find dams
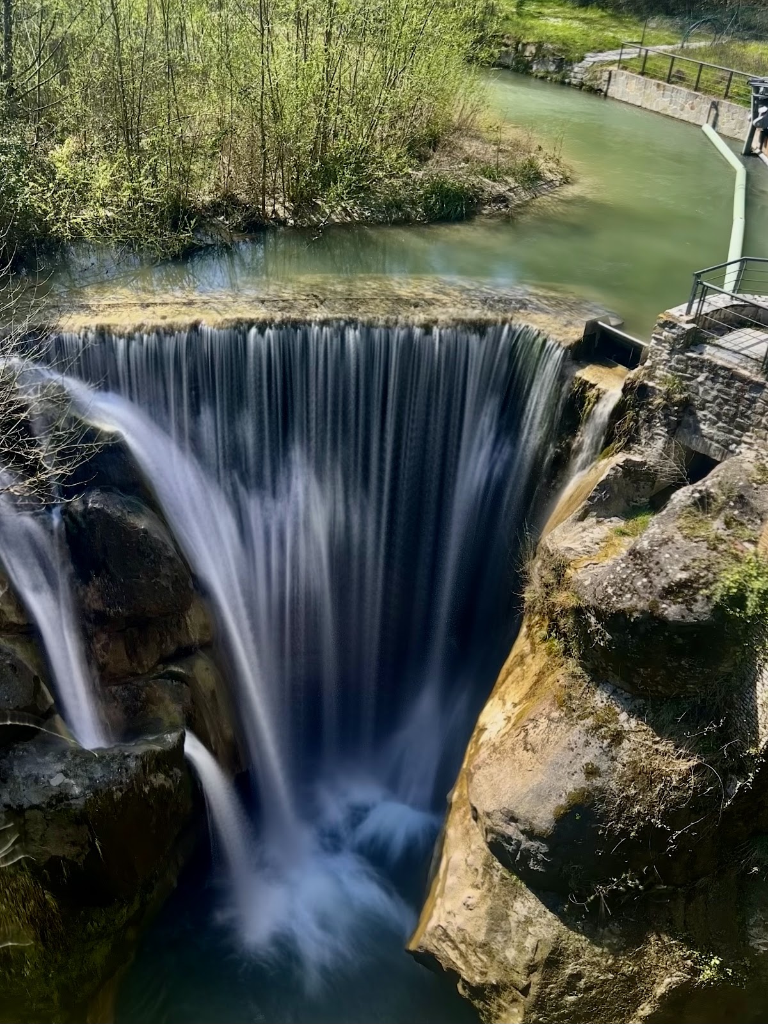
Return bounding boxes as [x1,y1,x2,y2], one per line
[0,278,610,684]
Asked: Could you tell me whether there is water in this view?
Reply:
Yes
